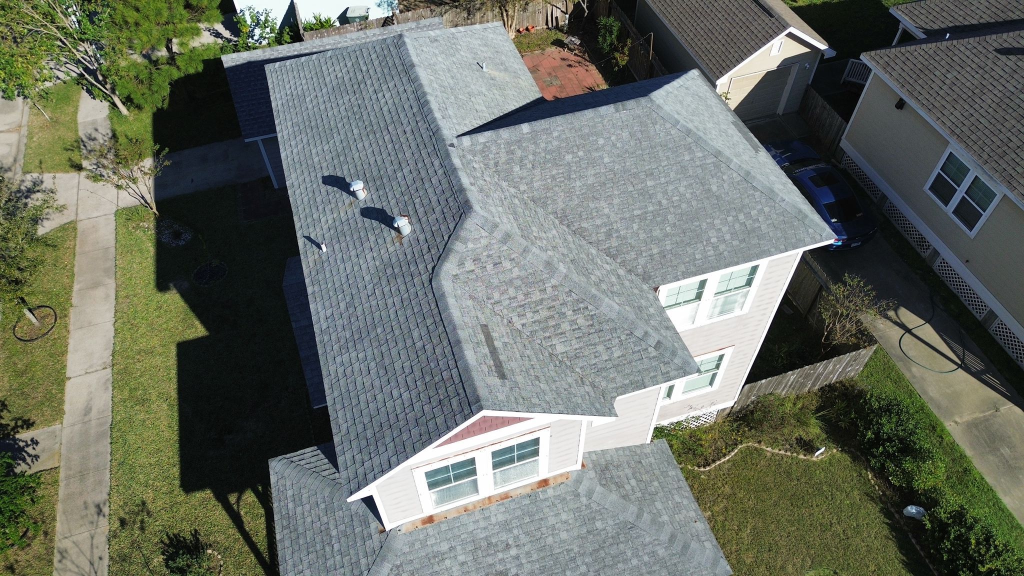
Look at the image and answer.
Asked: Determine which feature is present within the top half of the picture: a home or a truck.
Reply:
home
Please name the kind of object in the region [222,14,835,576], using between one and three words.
house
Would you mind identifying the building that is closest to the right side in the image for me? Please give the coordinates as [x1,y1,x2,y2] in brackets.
[836,0,1024,368]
